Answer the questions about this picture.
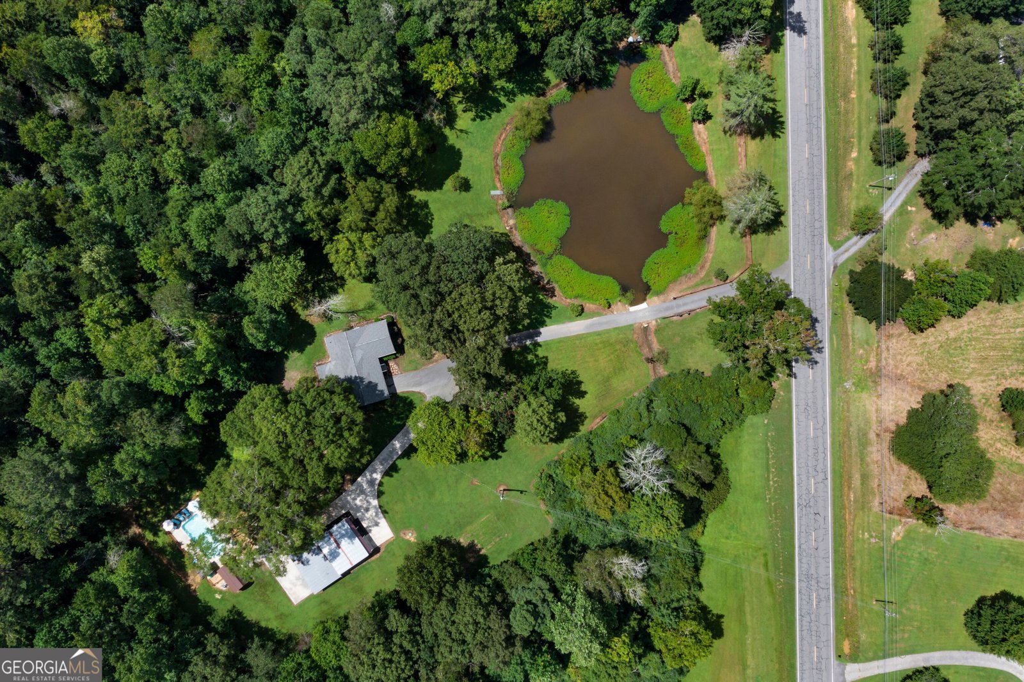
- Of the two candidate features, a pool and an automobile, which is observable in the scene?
pool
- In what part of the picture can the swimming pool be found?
bottom left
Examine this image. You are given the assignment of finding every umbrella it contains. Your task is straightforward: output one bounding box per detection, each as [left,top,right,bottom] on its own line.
[163,519,175,531]
[188,500,200,512]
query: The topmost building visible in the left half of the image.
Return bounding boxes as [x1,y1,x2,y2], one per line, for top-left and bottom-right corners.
[316,319,396,406]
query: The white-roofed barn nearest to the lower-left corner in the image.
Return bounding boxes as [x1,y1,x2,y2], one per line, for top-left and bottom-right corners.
[291,512,373,594]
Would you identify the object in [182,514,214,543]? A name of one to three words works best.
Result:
swimming pool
